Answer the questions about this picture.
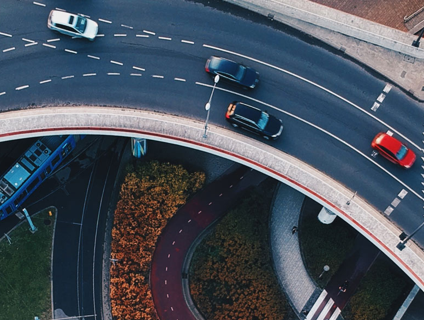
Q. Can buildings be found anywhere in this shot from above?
No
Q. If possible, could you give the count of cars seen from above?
4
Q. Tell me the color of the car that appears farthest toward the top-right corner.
red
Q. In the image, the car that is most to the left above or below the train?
above it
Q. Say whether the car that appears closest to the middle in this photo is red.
No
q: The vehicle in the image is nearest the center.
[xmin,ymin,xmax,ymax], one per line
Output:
[225,102,284,141]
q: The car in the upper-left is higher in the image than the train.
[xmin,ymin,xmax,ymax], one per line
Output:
[47,7,101,43]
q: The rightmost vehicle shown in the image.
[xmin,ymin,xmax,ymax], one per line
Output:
[370,132,419,170]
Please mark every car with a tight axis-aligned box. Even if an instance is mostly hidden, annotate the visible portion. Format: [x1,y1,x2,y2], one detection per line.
[47,7,101,43]
[205,57,261,92]
[225,102,284,141]
[370,132,419,170]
